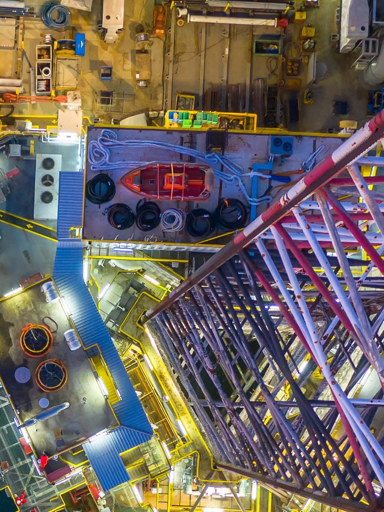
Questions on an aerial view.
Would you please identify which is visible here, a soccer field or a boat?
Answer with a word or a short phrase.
boat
